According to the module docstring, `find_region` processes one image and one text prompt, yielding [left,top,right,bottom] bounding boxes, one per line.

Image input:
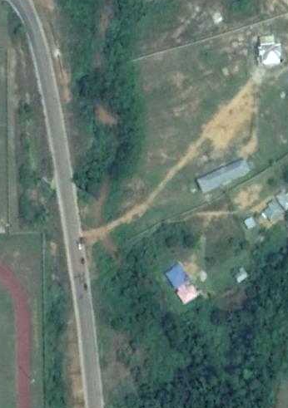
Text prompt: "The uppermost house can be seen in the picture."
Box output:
[259,36,282,68]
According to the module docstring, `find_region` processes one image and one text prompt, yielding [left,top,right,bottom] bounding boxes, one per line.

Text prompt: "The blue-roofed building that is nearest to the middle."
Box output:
[167,263,190,289]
